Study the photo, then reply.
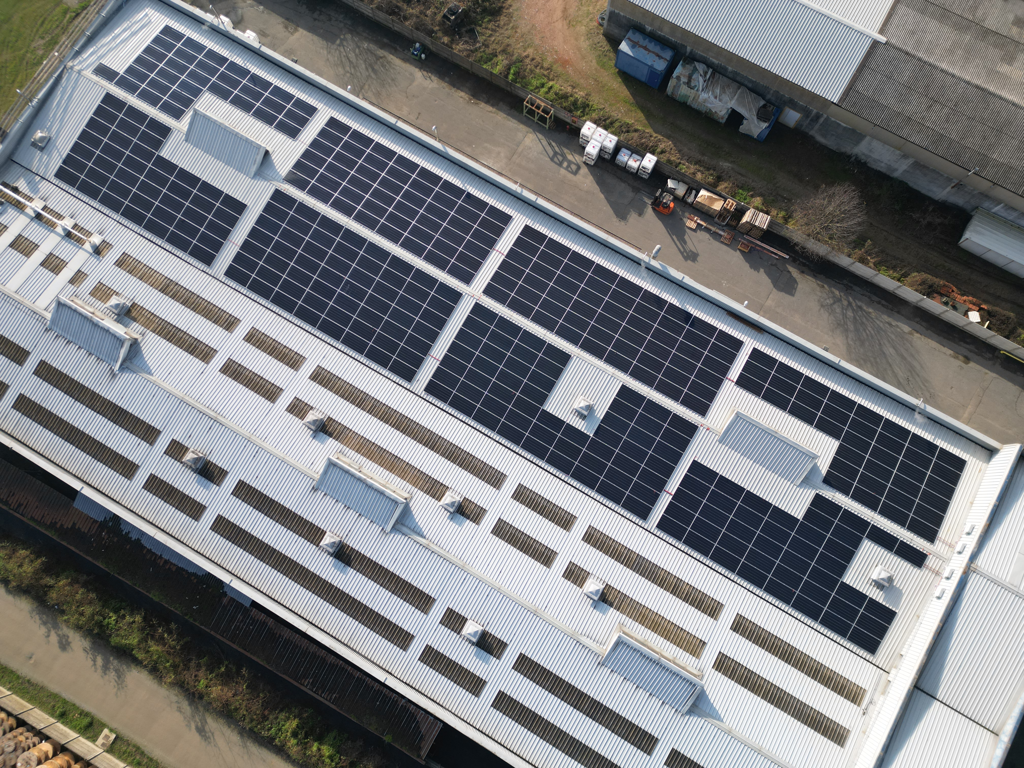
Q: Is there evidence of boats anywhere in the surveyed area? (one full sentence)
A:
No, there is no boat in the image.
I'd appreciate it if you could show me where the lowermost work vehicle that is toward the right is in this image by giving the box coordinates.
[636,188,676,216]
